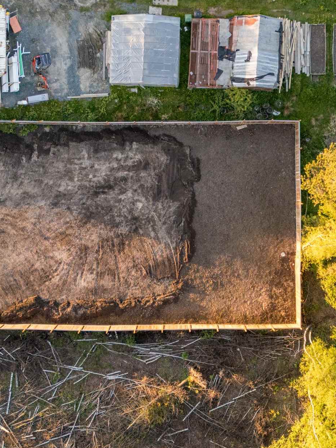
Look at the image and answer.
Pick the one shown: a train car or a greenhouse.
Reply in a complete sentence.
Visible in the photo is a greenhouse.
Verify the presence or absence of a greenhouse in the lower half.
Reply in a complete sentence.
No, there's no greenhouse to be seen in the lower half.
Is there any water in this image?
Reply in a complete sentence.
No, no water is visible.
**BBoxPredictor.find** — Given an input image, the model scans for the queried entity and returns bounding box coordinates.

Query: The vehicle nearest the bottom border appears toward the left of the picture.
[34,50,58,89]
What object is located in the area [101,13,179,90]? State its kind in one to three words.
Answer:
greenhouse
